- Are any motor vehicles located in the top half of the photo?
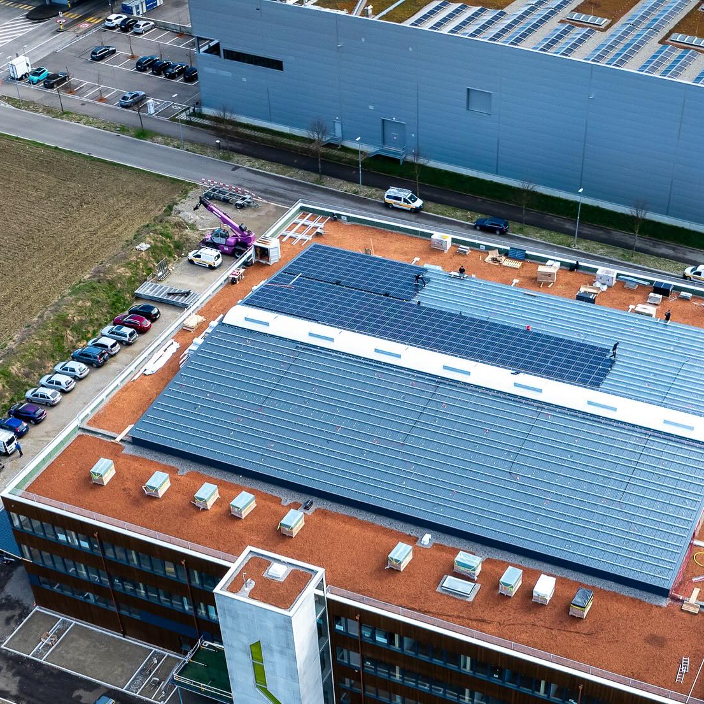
Yes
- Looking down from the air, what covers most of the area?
buildings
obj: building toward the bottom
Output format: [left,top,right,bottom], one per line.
[0,198,704,704]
